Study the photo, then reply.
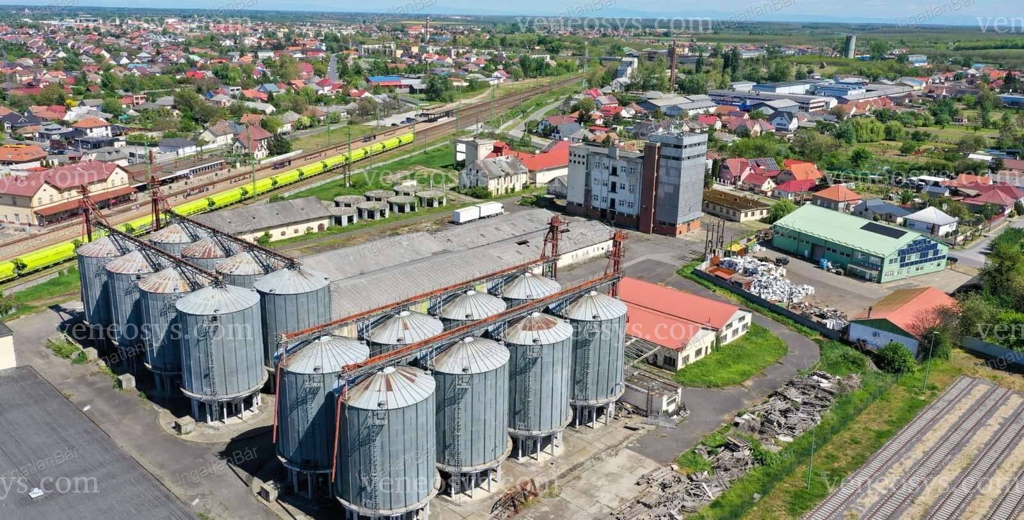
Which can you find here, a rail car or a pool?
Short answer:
rail car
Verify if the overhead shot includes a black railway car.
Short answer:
No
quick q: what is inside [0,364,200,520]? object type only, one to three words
building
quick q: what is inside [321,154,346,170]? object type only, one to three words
rail car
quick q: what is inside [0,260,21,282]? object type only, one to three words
rail car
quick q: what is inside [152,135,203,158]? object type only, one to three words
house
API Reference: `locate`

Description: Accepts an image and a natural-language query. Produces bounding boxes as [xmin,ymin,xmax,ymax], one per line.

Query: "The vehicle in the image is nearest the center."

[451,202,506,224]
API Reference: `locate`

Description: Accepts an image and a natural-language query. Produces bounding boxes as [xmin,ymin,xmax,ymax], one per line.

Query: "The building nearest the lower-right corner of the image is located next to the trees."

[846,285,941,352]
